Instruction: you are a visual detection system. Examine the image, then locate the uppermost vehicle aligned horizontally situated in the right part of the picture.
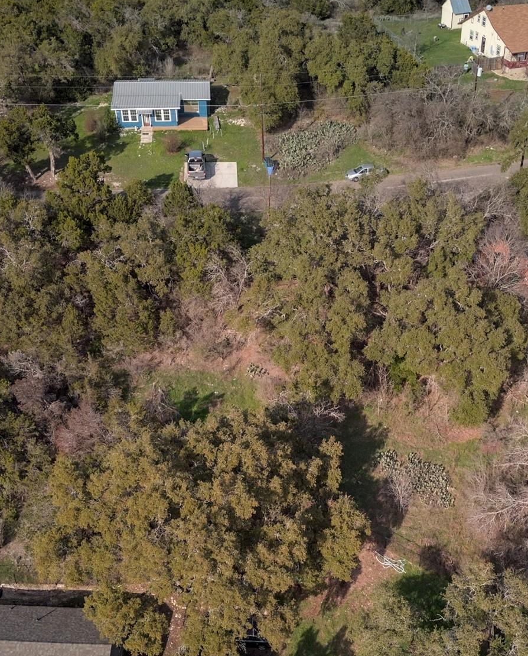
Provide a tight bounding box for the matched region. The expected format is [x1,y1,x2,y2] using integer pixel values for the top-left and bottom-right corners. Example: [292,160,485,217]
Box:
[347,163,386,181]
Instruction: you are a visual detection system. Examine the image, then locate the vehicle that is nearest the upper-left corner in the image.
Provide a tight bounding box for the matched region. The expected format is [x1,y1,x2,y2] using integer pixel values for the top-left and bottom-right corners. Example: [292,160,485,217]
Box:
[184,151,208,180]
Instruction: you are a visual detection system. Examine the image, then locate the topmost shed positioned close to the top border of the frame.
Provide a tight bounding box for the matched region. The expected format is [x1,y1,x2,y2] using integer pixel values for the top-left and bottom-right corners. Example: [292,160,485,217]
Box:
[434,0,470,28]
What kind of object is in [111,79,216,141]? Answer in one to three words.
house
